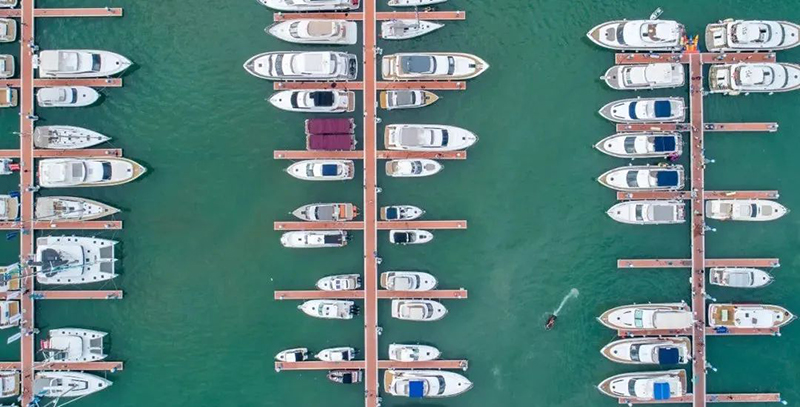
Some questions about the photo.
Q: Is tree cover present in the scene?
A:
No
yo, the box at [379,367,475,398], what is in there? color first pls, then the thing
white boat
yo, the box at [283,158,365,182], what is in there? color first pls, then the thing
white boat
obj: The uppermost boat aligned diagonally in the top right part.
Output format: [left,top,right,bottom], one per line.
[650,6,665,20]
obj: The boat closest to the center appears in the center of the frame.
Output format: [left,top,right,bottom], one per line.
[377,205,423,220]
